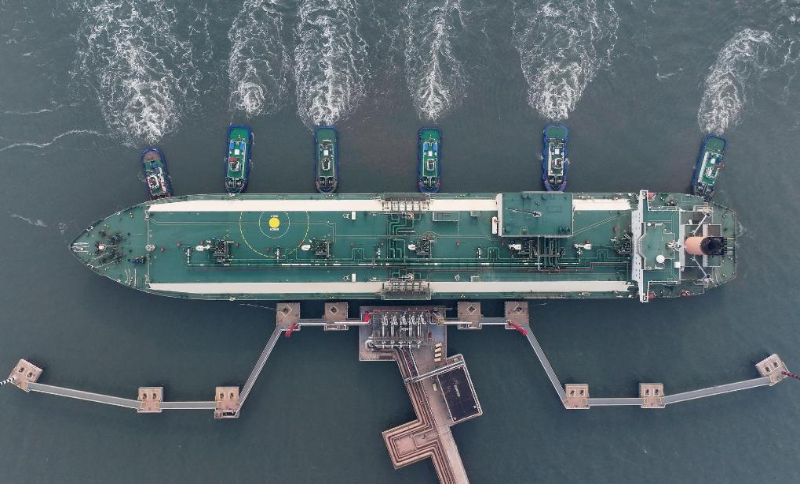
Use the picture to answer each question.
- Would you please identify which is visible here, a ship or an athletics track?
ship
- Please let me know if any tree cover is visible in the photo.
No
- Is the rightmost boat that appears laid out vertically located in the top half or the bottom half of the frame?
top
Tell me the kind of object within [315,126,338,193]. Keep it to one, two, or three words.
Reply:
boat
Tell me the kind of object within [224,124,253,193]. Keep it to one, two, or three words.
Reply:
boat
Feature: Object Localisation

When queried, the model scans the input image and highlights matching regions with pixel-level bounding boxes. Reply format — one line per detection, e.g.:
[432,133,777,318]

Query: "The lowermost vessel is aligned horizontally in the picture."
[70,190,736,302]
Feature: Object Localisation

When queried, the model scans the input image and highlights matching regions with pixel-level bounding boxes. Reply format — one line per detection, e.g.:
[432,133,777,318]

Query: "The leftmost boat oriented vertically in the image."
[141,147,173,199]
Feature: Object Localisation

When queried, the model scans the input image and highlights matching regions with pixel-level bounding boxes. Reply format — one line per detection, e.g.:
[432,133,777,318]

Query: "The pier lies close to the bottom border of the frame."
[360,307,483,484]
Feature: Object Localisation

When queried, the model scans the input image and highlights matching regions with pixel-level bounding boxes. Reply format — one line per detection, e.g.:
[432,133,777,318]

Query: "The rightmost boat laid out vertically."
[692,134,726,199]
